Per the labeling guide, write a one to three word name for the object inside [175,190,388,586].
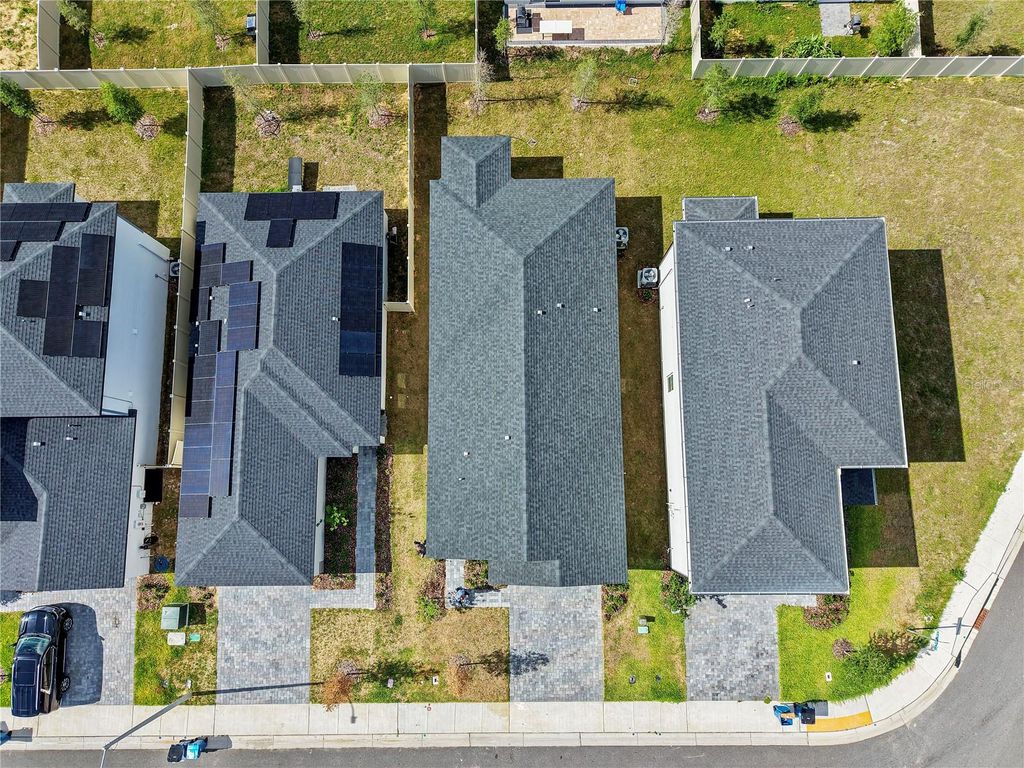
house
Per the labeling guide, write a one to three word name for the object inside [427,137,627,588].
house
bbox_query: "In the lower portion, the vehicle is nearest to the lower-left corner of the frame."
[9,606,74,722]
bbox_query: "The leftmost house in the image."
[0,182,168,595]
